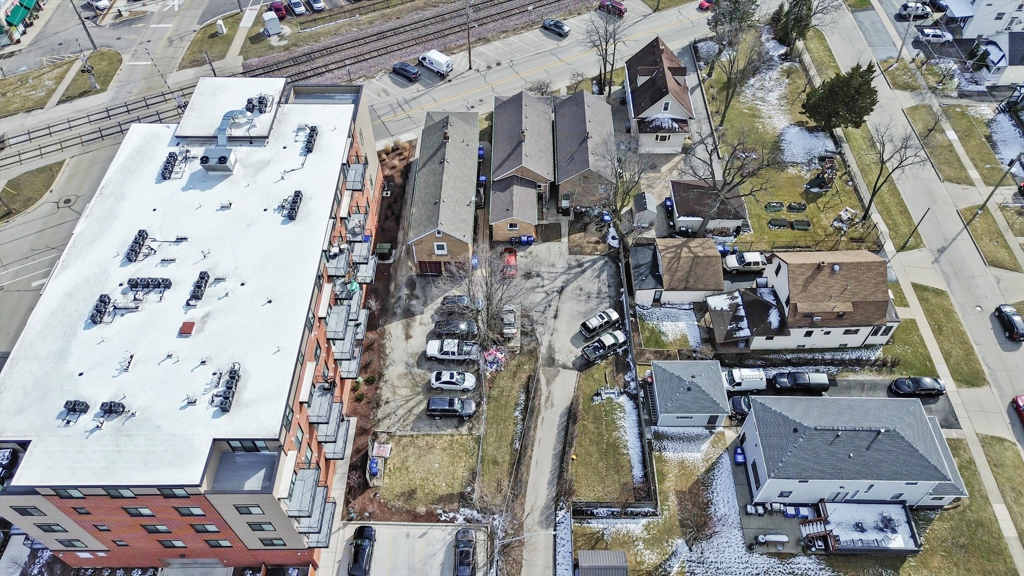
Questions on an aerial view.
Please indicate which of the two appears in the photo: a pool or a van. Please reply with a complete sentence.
Looking from above, you can make out a van.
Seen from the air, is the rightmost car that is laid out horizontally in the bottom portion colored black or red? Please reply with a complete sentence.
From above, the rightmost car that is laid out horizontally in the bottom portion appears black.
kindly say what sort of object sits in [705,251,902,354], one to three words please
house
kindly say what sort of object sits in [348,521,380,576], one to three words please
car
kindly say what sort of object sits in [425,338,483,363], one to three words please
truck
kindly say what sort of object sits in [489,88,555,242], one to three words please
house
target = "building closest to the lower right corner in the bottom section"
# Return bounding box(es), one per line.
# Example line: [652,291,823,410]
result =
[739,394,971,511]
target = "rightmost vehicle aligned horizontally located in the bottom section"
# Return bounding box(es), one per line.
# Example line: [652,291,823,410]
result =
[886,375,949,399]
